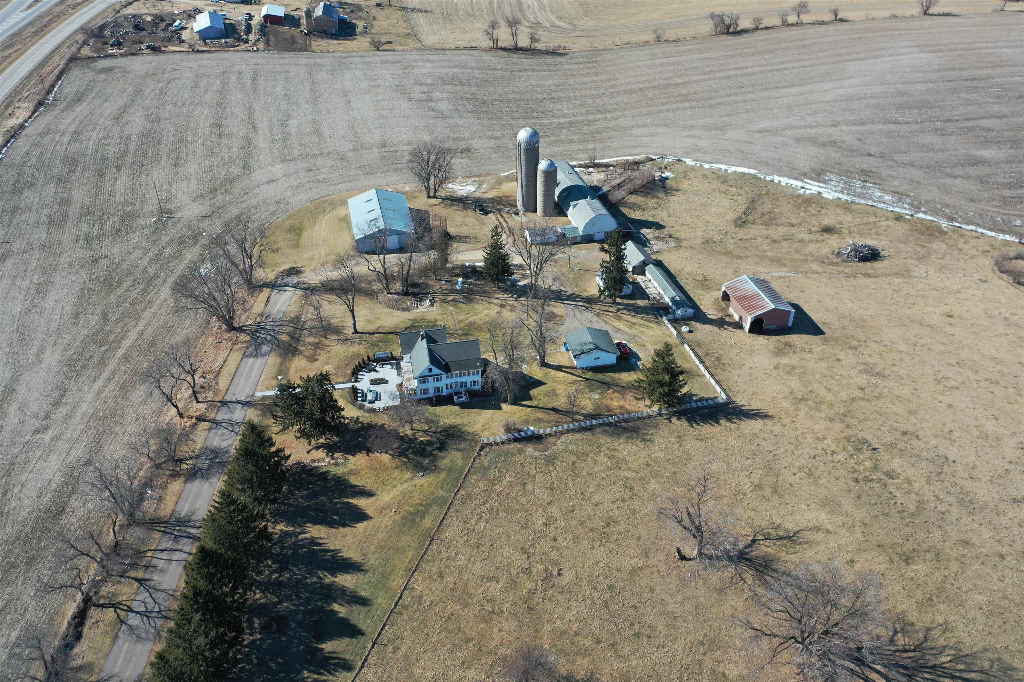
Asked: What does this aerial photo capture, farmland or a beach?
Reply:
farmland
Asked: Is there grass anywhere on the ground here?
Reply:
Yes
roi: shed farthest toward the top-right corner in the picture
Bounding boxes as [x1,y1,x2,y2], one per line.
[720,274,796,331]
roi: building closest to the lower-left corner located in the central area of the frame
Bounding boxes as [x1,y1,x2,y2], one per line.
[398,323,484,401]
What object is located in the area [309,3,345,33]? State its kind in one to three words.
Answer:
barn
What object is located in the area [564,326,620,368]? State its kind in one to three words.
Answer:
building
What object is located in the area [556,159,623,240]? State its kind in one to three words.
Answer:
barn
